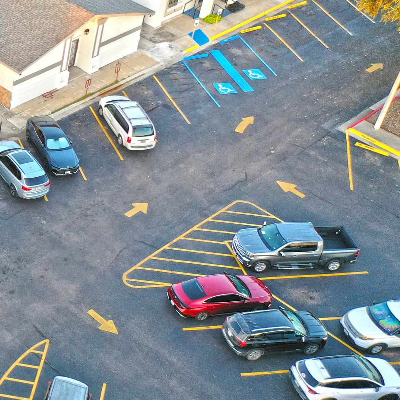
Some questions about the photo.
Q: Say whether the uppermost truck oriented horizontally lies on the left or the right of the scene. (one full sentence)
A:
The uppermost truck oriented horizontally appears in the right half of the scene.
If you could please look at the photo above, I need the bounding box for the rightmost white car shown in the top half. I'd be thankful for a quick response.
[94,96,156,153]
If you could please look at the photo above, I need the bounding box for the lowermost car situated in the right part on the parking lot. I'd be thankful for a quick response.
[290,352,400,400]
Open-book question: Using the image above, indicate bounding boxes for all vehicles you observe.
[94,96,156,153]
[290,352,400,400]
[225,308,342,363]
[169,272,284,320]
[38,375,89,400]
[23,115,79,178]
[227,221,368,274]
[0,137,52,204]
[344,300,400,356]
